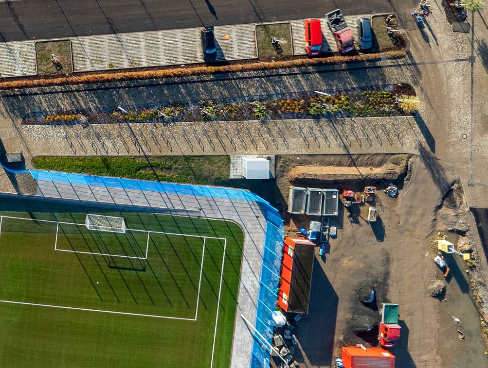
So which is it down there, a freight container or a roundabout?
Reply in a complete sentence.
Visible in the photo is a freight container.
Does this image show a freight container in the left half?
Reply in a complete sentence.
No, I can find no freight container in the left half.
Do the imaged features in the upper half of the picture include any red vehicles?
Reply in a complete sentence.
Yes, a red vehicle can be seen in the upper half of the picture.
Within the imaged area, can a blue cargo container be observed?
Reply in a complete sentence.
No, no blue cargo container can be seen from above.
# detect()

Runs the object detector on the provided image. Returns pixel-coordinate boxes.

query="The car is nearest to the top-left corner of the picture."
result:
[202,23,218,59]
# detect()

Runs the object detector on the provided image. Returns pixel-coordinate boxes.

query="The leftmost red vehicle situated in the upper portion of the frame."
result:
[302,17,322,54]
